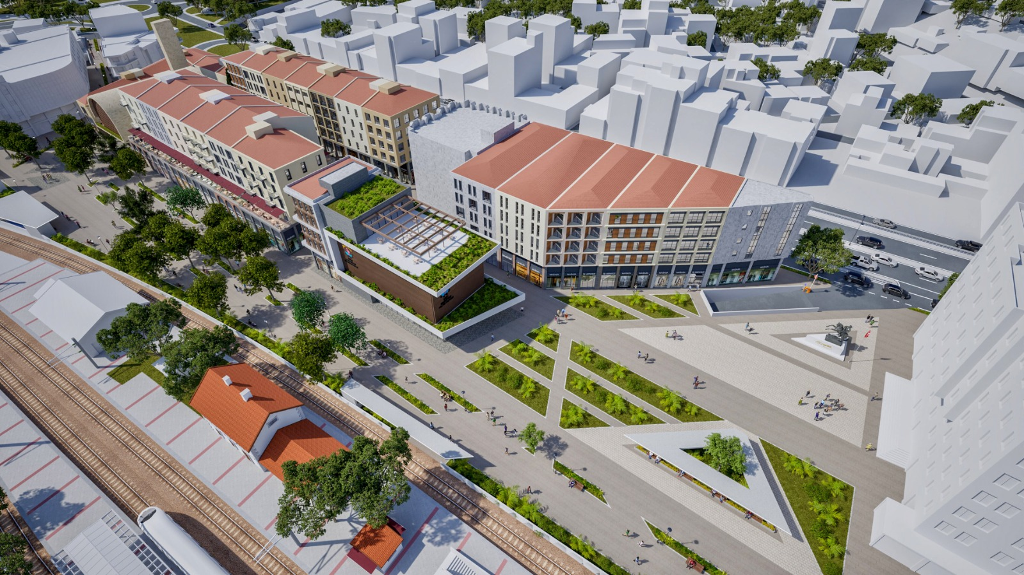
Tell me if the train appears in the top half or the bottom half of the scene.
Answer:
bottom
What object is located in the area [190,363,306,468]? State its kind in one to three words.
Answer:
building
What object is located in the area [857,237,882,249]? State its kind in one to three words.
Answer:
vehicle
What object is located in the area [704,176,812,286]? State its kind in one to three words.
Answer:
building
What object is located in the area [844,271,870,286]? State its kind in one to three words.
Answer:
car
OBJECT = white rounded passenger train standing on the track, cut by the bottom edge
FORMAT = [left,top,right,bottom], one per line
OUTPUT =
[137,506,229,575]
